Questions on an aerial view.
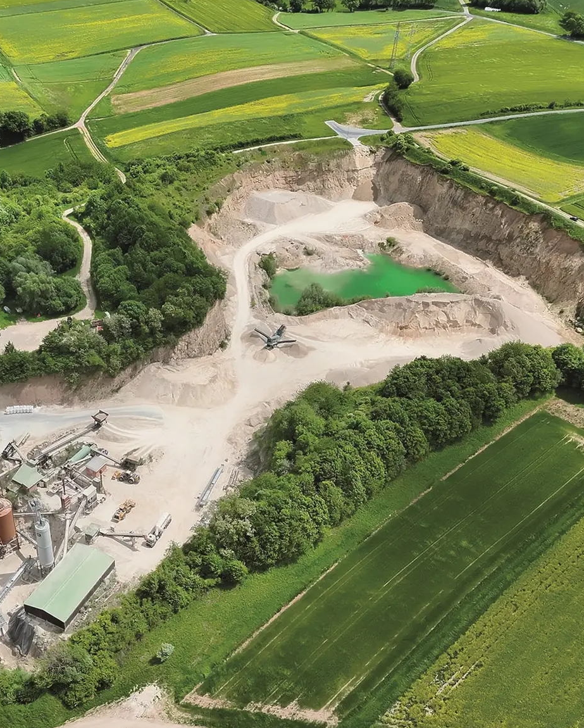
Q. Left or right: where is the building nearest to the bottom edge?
left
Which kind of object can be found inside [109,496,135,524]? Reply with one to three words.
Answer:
work vehicle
